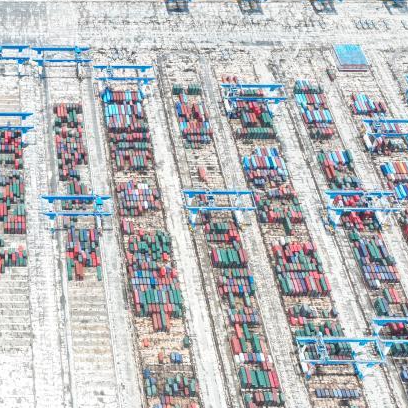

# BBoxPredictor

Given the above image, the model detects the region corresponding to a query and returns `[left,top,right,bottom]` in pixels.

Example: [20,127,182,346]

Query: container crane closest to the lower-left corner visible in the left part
[40,194,114,238]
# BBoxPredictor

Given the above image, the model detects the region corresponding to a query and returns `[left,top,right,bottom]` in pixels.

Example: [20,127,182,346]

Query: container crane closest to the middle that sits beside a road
[179,187,255,233]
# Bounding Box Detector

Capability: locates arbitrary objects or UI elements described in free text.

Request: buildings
[331,46,370,70]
